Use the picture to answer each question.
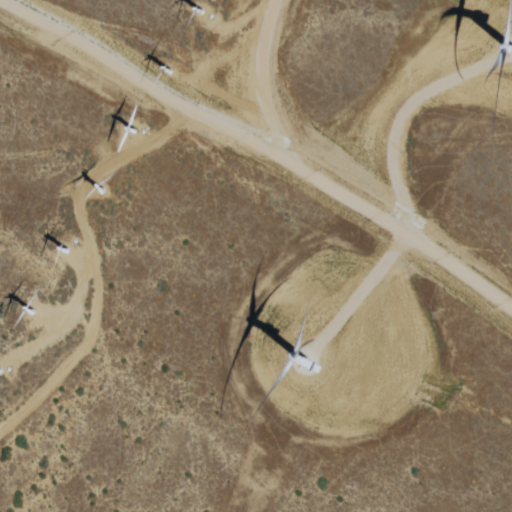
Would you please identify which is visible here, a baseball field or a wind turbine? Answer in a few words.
wind turbine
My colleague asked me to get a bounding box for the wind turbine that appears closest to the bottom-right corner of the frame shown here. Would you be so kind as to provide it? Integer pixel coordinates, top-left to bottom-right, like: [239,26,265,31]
[249,296,322,427]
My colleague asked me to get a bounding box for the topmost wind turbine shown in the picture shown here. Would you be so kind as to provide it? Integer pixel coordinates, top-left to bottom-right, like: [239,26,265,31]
[184,0,206,30]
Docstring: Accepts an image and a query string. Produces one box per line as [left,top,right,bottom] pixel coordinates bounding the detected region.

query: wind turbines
[115,106,139,150]
[487,0,512,117]
[151,60,174,88]
[249,296,322,427]
[14,287,36,328]
[81,170,111,198]
[48,241,70,268]
[184,0,206,30]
